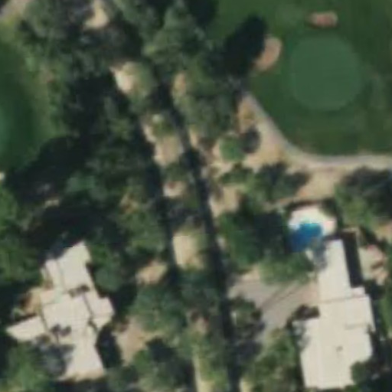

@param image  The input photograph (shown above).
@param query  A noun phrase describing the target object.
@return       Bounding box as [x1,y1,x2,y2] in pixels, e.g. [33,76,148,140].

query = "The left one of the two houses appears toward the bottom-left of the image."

[7,240,115,380]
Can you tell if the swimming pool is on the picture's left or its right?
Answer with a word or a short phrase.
right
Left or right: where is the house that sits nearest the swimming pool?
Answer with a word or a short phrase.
right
